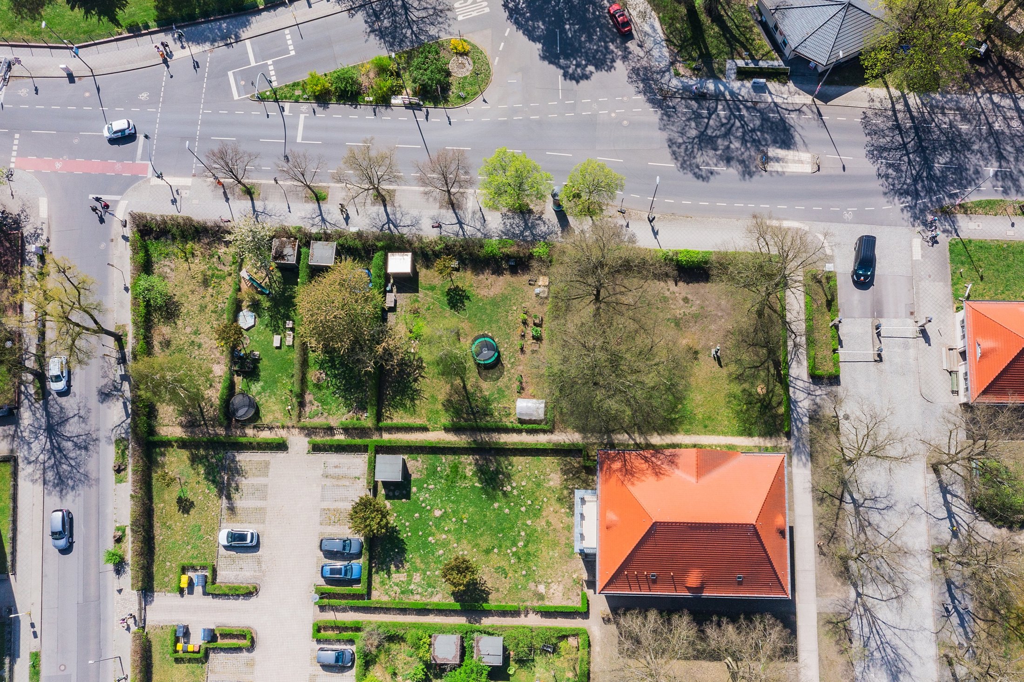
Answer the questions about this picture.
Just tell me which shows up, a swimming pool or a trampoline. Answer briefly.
trampoline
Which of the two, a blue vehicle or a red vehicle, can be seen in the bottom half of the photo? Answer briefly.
blue vehicle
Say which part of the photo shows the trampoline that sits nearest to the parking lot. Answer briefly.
left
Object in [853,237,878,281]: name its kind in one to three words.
vehicle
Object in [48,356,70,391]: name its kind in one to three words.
car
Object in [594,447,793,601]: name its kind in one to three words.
house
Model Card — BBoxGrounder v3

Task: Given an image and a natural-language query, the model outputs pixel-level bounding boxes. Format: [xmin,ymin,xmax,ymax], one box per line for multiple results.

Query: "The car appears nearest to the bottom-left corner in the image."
[50,510,72,548]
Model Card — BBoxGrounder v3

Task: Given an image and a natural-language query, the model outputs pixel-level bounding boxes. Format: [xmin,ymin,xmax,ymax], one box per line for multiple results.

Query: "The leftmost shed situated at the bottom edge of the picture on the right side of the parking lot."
[432,634,460,664]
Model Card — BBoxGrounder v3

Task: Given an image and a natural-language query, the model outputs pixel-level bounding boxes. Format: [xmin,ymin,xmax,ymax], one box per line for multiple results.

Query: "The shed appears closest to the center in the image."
[387,253,412,276]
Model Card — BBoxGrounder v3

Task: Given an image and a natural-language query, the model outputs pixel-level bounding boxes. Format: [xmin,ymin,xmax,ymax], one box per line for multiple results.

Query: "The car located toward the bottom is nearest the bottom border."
[316,647,354,668]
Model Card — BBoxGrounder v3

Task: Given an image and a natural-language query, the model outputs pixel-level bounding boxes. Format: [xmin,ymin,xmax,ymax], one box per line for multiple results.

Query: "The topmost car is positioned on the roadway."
[609,3,633,34]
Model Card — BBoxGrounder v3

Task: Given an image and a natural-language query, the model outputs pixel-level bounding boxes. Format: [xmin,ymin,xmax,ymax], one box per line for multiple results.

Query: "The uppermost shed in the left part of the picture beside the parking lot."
[375,455,403,481]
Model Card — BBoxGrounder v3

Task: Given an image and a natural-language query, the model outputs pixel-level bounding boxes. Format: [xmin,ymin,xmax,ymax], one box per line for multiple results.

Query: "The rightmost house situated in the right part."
[937,300,1024,409]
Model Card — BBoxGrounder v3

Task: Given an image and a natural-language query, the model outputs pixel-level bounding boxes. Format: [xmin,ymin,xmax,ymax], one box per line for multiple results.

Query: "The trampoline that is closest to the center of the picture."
[473,340,500,369]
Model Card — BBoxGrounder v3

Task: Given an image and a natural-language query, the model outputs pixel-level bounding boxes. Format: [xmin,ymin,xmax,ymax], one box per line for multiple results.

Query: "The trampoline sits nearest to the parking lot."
[227,395,259,422]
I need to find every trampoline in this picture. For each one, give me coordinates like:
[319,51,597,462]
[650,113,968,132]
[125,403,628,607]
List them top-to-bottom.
[473,340,500,369]
[227,395,259,422]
